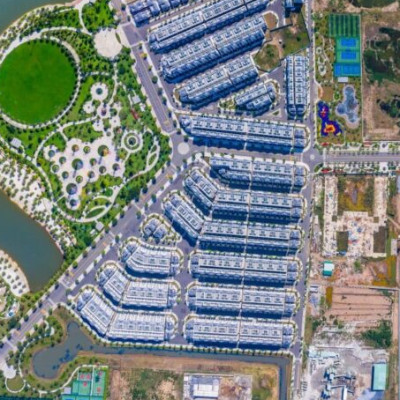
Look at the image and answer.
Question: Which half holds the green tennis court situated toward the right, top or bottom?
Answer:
top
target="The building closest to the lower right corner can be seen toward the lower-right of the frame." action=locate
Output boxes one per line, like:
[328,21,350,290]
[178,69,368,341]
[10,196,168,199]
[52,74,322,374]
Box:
[373,364,387,392]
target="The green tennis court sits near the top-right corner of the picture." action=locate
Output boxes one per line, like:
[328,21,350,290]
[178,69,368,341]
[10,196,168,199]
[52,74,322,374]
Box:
[336,37,361,63]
